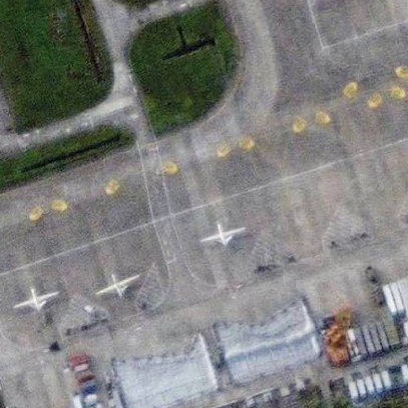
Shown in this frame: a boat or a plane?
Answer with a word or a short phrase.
plane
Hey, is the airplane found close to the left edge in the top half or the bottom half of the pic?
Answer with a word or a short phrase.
bottom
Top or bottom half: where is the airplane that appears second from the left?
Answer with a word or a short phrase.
bottom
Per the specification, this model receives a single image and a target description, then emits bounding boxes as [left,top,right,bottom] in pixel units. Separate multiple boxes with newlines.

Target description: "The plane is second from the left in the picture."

[95,276,141,299]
